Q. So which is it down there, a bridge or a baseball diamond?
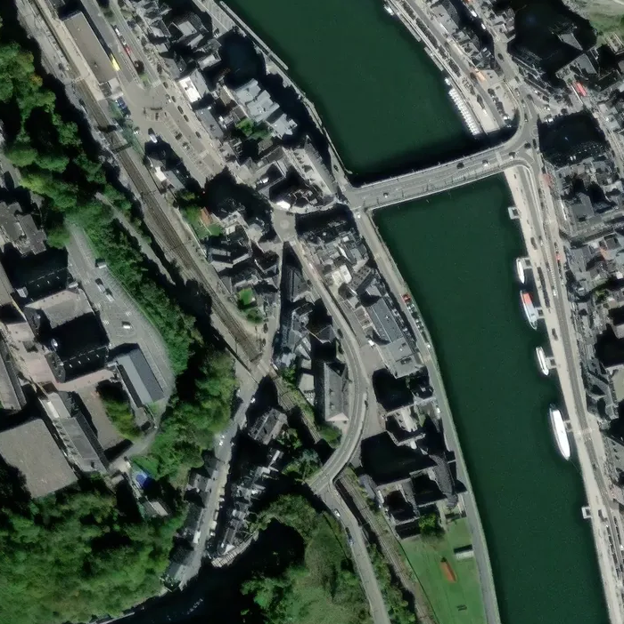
bridge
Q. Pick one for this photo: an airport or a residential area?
residential area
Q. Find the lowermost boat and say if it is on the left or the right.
right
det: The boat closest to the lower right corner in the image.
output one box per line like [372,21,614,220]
[548,405,569,459]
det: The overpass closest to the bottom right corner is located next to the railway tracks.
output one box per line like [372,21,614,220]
[309,368,374,491]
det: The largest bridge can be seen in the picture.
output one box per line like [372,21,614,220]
[341,134,532,216]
